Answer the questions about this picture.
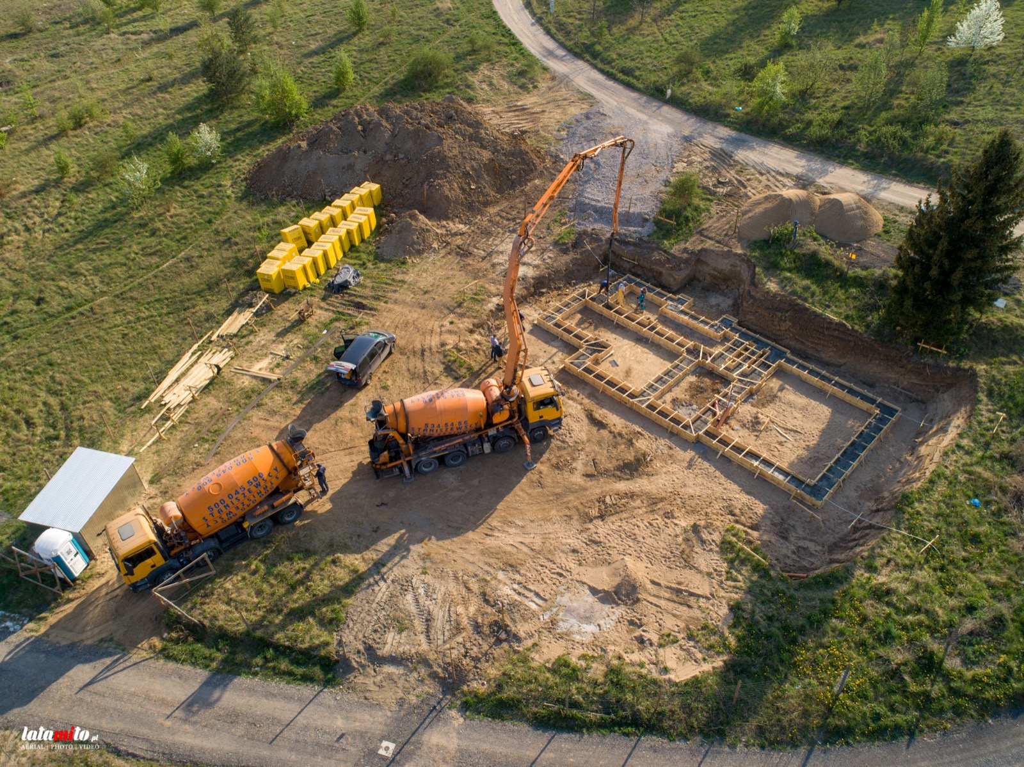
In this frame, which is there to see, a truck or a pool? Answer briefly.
truck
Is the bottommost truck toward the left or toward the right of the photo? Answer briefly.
left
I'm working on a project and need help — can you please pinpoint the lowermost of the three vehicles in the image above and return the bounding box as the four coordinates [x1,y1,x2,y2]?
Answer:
[102,422,327,597]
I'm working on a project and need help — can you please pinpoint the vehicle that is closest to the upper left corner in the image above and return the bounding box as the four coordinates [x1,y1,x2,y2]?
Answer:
[325,330,395,390]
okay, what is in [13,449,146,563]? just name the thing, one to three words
shed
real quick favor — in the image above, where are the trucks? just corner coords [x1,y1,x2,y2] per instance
[358,136,635,485]
[102,422,327,597]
